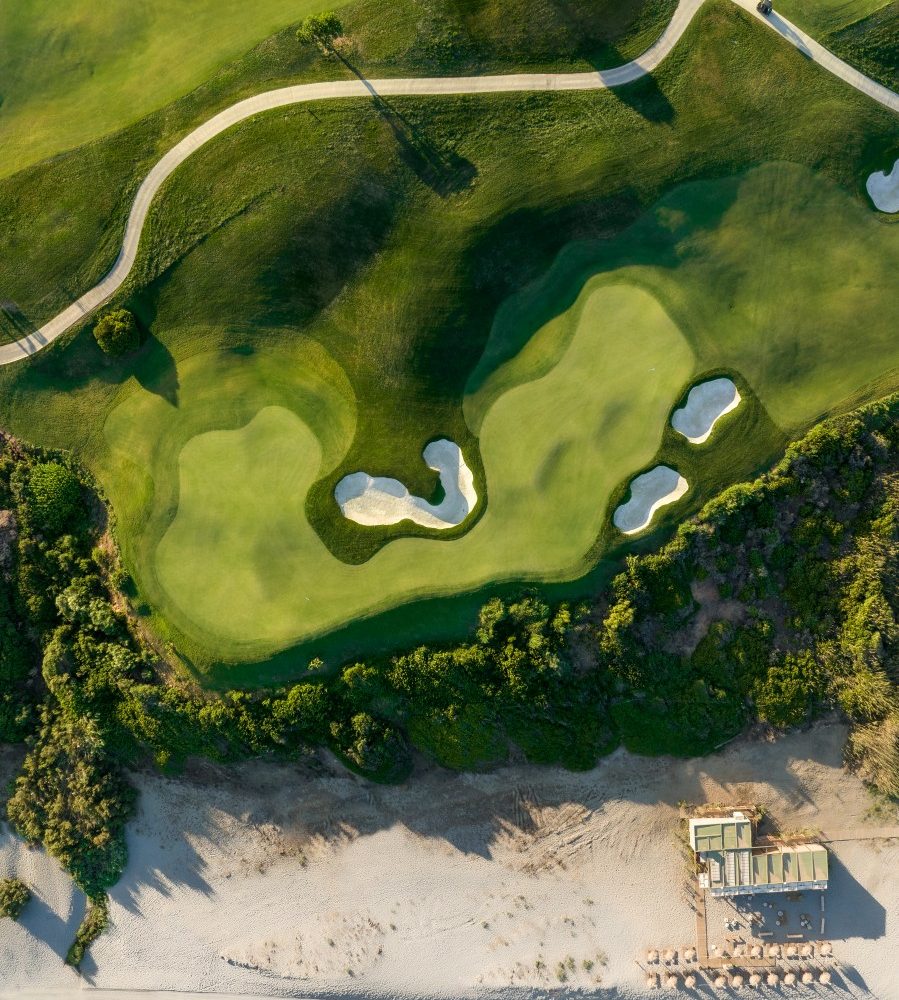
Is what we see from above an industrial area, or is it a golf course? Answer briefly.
golf course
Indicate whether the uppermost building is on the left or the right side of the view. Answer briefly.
right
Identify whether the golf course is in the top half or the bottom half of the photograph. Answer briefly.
top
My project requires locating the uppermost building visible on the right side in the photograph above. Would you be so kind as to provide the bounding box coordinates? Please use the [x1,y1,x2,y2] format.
[687,813,829,896]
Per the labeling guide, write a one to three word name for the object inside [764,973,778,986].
umbrella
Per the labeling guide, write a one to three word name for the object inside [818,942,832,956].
umbrella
